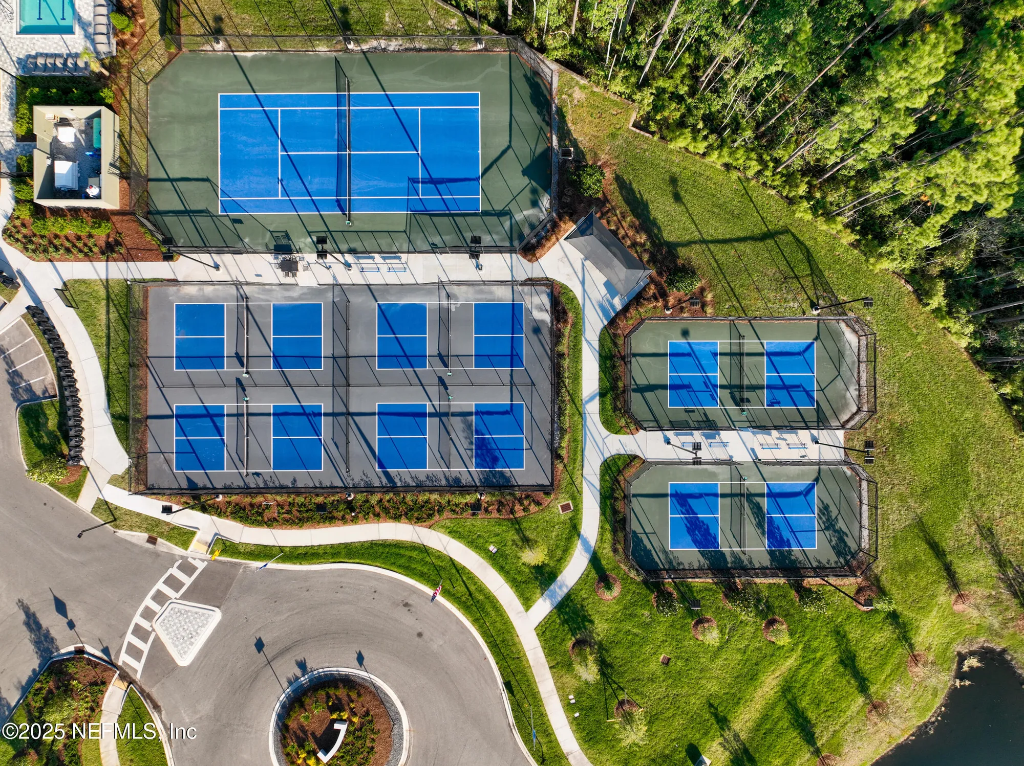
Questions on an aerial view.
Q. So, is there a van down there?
No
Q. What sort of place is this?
sports ground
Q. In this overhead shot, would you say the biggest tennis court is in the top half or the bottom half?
top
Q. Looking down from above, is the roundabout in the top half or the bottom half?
bottom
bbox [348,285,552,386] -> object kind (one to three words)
sports court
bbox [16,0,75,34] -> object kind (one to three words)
swimming pool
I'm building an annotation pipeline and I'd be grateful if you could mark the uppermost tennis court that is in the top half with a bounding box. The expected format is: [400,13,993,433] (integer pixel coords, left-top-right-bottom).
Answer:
[148,51,550,253]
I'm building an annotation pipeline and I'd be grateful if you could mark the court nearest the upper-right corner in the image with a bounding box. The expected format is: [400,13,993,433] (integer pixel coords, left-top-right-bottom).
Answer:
[631,322,859,428]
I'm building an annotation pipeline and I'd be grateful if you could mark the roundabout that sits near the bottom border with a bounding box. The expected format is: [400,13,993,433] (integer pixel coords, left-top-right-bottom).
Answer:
[269,668,408,766]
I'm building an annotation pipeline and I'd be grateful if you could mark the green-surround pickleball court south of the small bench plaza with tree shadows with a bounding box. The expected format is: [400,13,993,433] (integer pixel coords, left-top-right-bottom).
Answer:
[631,464,861,570]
